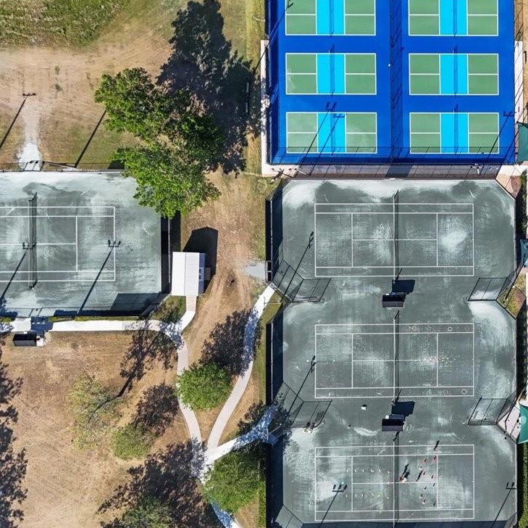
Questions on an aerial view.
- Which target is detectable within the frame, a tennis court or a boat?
tennis court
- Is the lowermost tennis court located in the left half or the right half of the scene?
right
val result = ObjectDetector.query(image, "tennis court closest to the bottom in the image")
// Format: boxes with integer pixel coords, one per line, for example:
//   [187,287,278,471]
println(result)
[315,440,475,528]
